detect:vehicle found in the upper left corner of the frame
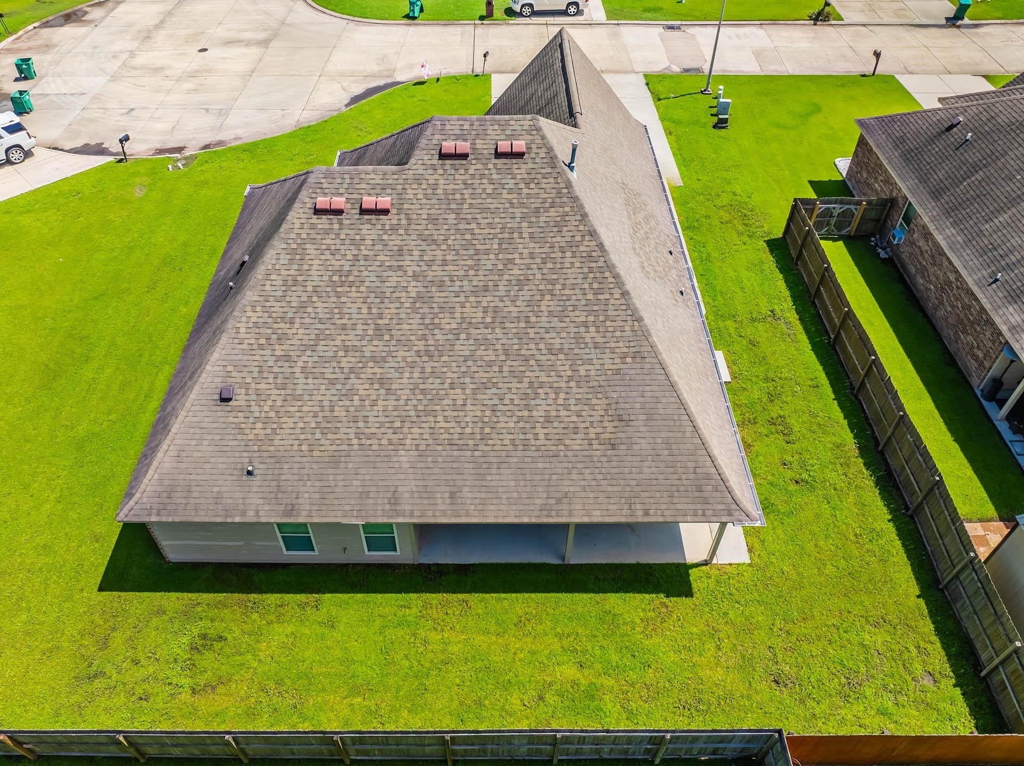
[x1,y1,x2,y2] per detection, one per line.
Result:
[0,109,36,164]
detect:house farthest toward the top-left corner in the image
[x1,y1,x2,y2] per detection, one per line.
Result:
[116,26,766,563]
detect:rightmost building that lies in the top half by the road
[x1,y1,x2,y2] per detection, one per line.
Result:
[845,66,1024,420]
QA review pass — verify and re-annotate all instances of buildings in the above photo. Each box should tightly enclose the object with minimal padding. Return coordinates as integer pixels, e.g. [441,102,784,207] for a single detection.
[845,66,1024,420]
[116,26,766,563]
[987,516,1024,635]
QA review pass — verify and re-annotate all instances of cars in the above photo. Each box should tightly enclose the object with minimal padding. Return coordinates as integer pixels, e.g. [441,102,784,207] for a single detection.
[0,109,36,164]
[508,0,593,15]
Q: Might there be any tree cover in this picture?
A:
No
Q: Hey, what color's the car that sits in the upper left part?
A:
white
